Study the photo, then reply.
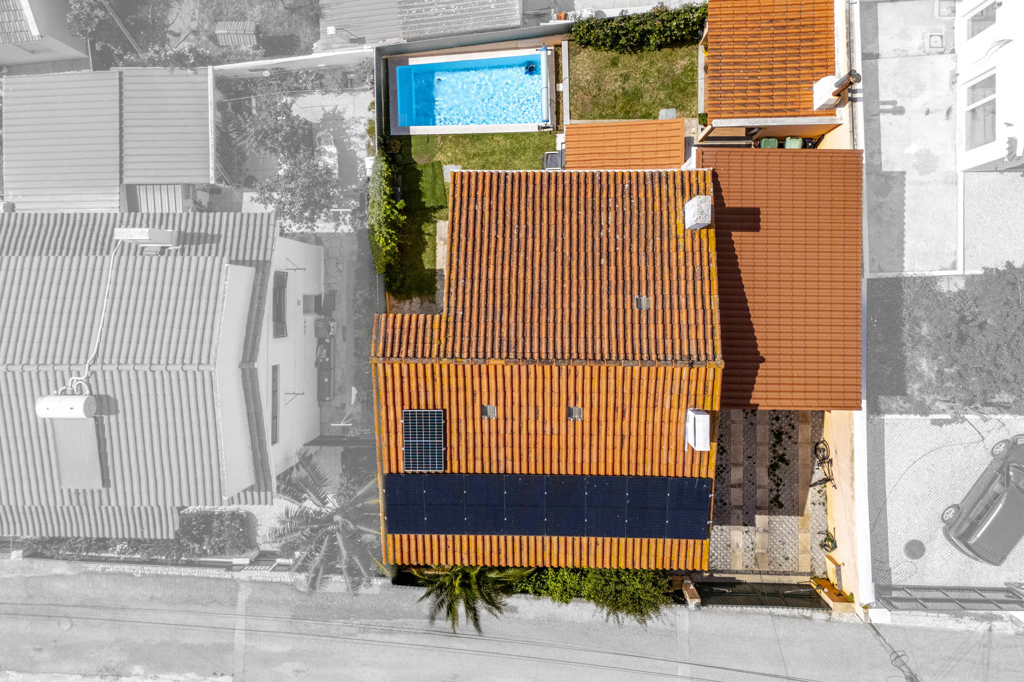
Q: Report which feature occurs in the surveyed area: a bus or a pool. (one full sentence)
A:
The one in the frame is a pool.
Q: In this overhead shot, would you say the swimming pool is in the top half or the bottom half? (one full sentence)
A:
Seen from above, the swimming pool lies in the top half of the view.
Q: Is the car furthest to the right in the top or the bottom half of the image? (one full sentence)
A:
Seen from above, the car furthest to the right lies in the bottom half of the view.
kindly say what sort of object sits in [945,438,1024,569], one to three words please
car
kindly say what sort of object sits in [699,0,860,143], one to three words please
shed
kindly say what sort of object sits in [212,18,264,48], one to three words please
building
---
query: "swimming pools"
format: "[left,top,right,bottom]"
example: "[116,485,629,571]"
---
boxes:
[389,44,556,135]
